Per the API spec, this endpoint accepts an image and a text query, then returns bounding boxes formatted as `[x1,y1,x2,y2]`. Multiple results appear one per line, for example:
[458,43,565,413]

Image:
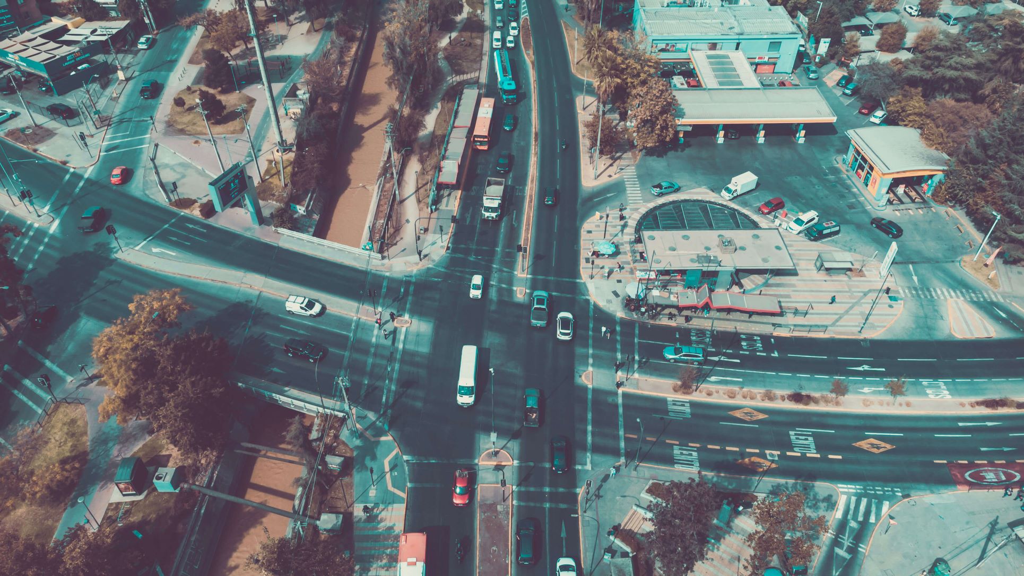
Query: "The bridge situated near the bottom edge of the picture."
[0,362,408,576]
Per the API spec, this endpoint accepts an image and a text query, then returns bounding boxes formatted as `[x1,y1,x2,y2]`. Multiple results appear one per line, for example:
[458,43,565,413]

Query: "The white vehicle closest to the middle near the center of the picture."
[468,275,484,300]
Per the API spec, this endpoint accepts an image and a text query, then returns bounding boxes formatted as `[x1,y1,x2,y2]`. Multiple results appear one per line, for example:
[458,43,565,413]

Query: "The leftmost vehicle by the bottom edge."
[398,530,429,576]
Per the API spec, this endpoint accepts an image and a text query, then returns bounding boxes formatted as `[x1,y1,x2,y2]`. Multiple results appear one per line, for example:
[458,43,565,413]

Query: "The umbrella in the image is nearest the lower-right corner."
[621,283,644,299]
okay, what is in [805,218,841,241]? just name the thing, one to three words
vehicle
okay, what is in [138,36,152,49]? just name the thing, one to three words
vehicle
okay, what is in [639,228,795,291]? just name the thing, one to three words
building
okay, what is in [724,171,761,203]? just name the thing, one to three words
truck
